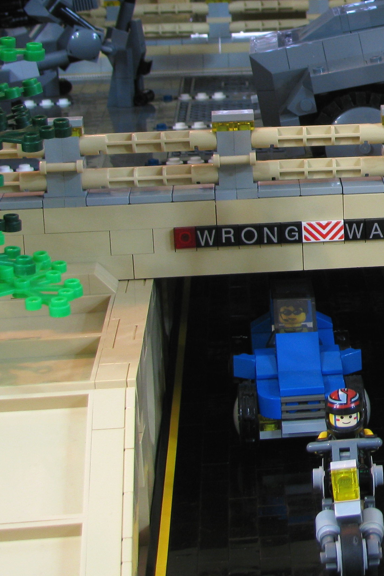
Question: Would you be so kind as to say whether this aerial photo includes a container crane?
No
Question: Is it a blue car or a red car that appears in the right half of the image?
blue car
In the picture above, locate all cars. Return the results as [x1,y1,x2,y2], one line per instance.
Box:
[248,0,384,128]
[227,281,374,436]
